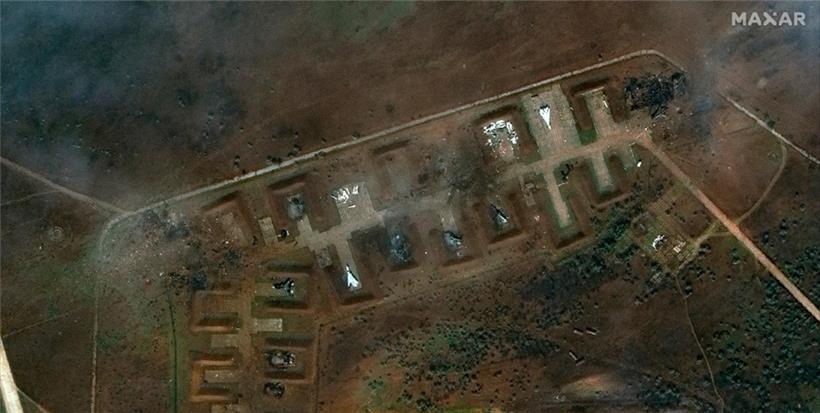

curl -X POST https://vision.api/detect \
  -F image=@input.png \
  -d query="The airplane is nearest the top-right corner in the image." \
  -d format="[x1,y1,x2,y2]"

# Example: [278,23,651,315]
[538,104,552,130]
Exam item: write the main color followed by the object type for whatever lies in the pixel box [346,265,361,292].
white airplane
